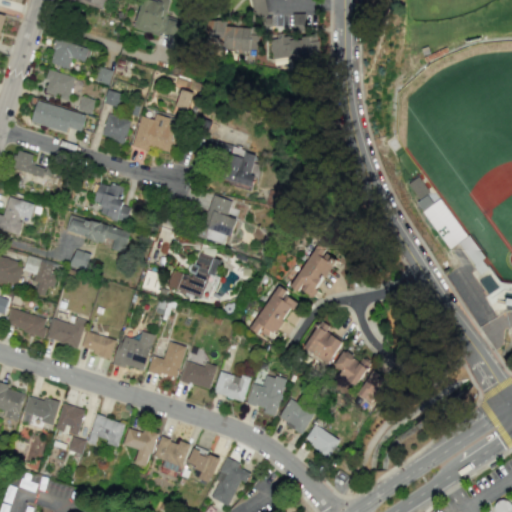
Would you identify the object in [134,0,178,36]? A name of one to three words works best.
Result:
house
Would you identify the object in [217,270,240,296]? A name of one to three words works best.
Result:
swimming pool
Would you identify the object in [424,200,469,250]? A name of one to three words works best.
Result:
building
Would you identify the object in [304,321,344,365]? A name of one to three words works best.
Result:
house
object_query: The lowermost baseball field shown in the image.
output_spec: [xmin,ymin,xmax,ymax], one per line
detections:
[397,43,512,284]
